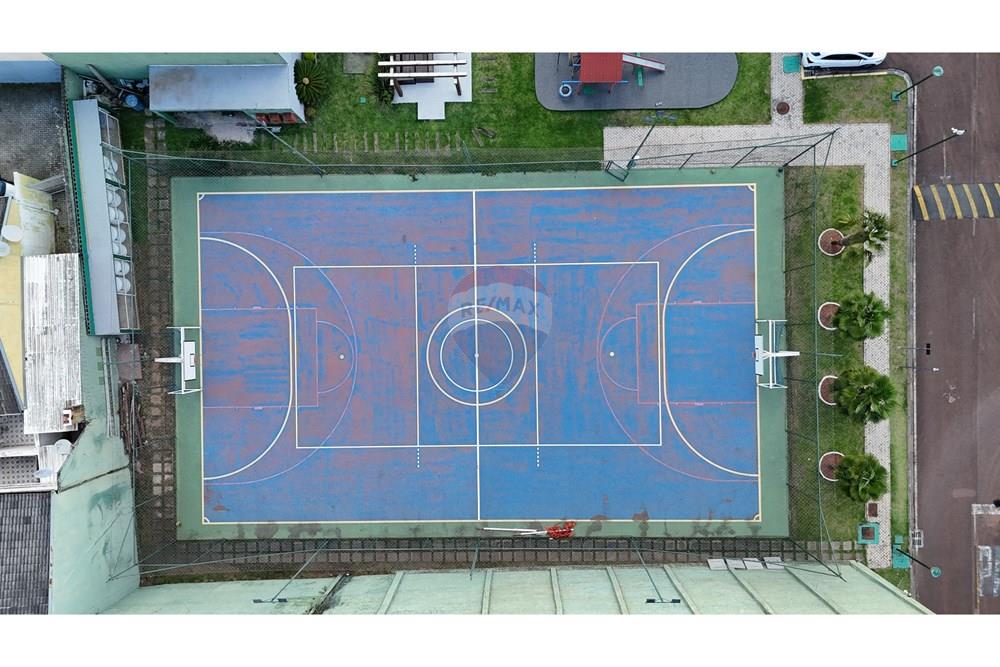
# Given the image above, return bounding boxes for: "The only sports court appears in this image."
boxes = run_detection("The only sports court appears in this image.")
[172,167,790,540]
